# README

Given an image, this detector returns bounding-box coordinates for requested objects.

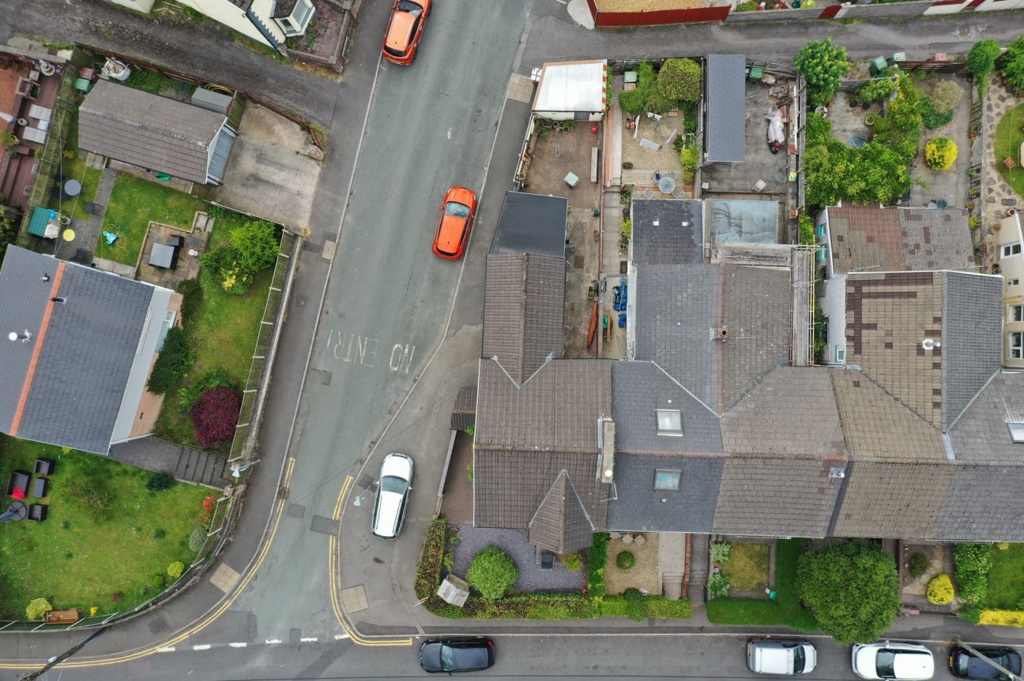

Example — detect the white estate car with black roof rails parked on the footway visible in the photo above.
[371,453,413,540]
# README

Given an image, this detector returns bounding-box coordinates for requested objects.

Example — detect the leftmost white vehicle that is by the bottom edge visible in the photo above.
[742,636,815,677]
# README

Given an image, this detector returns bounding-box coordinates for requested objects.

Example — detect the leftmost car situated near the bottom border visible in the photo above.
[420,634,497,676]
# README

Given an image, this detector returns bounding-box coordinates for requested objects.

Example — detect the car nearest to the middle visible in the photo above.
[431,185,477,262]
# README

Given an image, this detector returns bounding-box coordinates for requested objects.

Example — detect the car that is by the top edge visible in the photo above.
[386,0,434,66]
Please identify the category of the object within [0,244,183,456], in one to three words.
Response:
house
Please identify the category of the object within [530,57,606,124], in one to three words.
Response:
building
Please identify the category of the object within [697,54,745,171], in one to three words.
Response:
shed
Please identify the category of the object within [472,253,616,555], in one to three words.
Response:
house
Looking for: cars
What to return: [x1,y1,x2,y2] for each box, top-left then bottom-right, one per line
[944,639,1019,681]
[386,0,434,66]
[420,634,497,676]
[371,453,413,540]
[742,636,815,677]
[847,640,934,681]
[431,185,477,262]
